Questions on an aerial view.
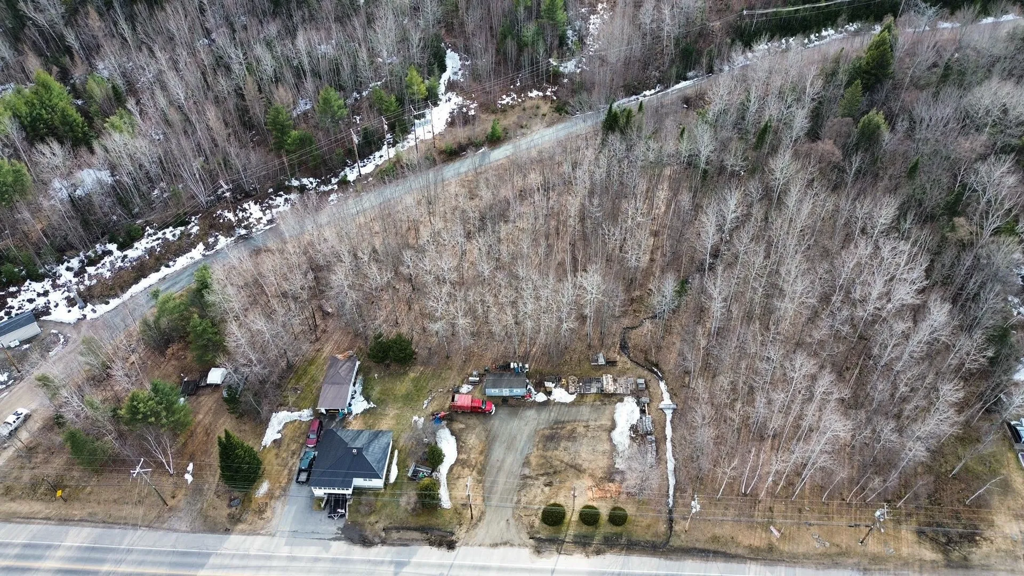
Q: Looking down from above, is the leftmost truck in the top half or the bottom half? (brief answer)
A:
bottom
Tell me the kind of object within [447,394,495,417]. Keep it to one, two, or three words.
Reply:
truck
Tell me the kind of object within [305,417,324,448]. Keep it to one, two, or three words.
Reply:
car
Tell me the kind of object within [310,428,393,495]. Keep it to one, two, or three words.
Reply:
house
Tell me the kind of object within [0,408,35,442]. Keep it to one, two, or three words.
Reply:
truck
